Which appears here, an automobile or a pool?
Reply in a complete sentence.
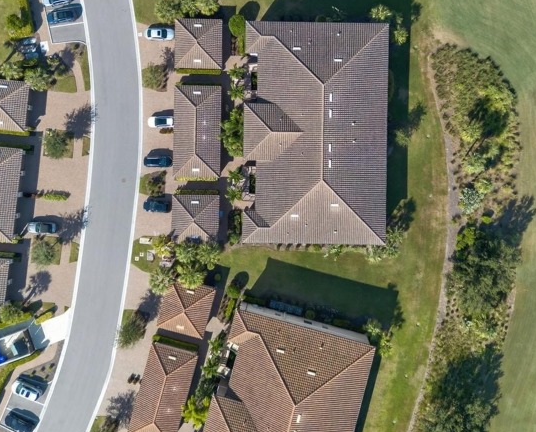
Of the two, only an automobile appears.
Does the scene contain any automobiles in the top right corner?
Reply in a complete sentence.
No, in the top right corner there is no automobile.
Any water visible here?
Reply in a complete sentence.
No, there is no water in the image.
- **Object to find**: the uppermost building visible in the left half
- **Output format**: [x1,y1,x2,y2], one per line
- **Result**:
[174,18,223,69]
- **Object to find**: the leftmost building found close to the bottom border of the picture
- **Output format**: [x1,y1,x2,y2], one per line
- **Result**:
[130,341,199,432]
